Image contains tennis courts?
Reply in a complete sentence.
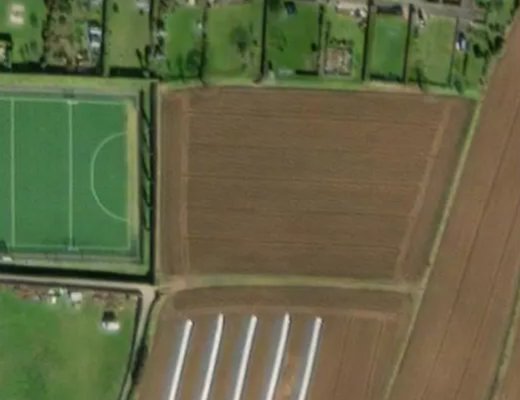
No, the frame has no tennis court in it.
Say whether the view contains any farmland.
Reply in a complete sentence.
Yes, farmland shows up in the scene.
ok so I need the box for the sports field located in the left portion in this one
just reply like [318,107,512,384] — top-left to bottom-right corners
[0,88,141,262]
